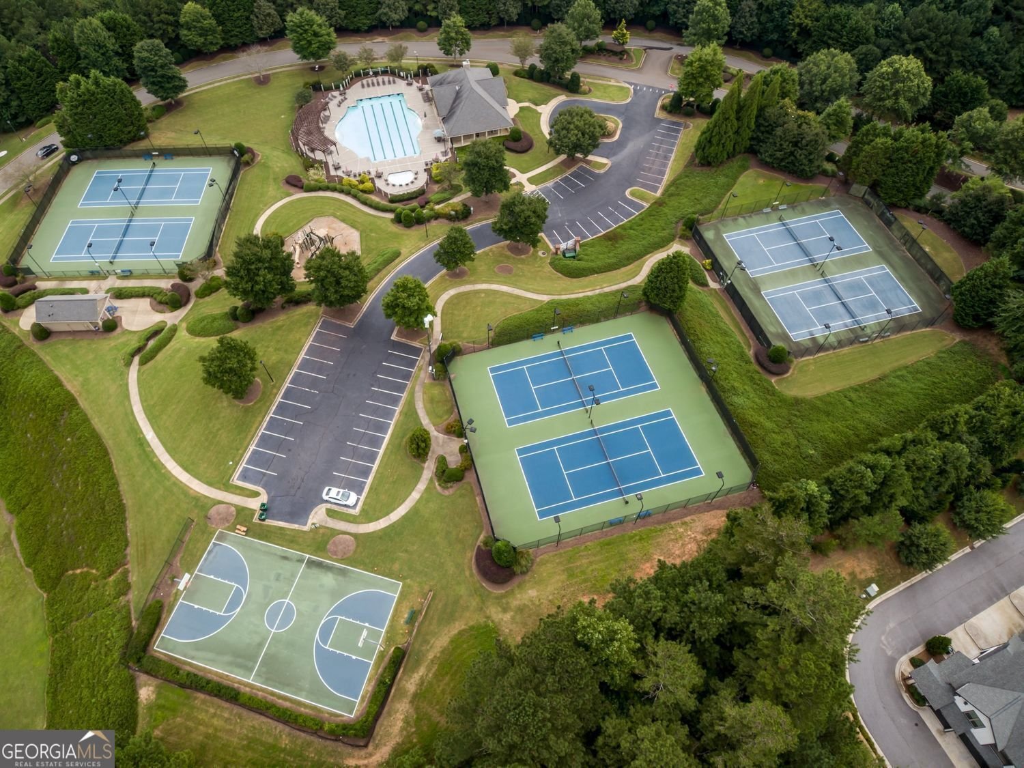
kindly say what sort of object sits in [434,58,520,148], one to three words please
building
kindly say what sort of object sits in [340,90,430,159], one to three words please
swimming pool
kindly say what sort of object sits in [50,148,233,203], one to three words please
tennis court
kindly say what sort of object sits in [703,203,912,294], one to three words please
tennis court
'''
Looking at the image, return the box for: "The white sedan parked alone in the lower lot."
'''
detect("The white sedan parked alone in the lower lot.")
[317,481,354,503]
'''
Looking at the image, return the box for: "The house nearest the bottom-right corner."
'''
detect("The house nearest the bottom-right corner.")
[899,643,1024,768]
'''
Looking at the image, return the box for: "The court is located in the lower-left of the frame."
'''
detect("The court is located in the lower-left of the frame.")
[147,522,398,712]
